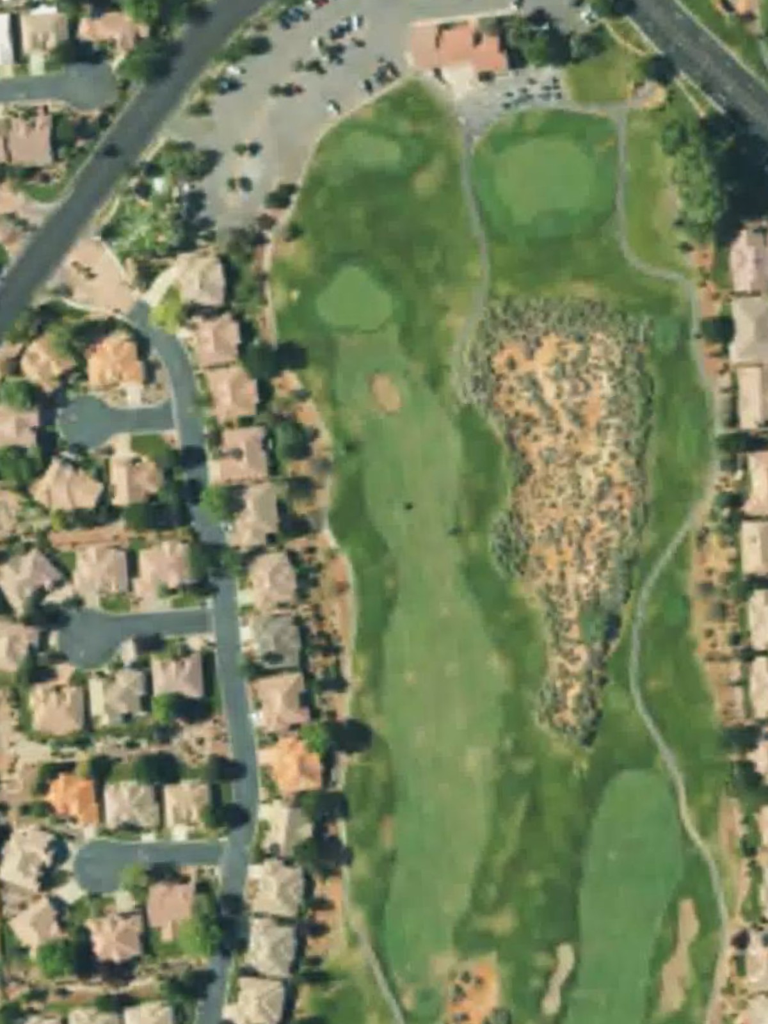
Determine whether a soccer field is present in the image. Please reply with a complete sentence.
No, this view has no soccer field in it.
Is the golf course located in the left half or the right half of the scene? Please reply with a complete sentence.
You can find the golf course on the right side of the picture.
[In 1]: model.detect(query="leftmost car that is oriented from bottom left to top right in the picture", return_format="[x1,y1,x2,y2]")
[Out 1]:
[106,143,119,158]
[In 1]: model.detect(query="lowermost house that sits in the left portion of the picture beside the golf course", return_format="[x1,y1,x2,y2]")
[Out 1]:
[222,978,285,1024]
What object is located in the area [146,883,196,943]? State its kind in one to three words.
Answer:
house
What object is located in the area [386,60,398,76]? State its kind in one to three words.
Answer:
vehicle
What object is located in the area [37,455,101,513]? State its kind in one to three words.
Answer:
house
